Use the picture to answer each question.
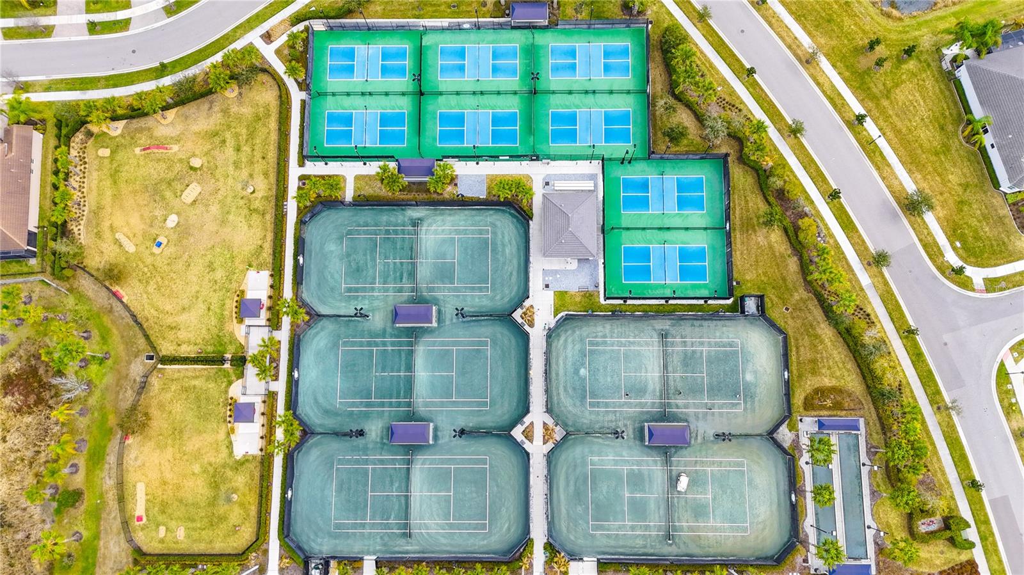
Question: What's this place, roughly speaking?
sports ground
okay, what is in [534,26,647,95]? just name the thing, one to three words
sports court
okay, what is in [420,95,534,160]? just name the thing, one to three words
sports court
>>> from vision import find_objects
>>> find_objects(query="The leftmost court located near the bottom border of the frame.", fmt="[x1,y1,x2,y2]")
[291,432,529,559]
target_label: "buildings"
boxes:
[542,191,598,259]
[0,125,41,256]
[957,48,1024,190]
